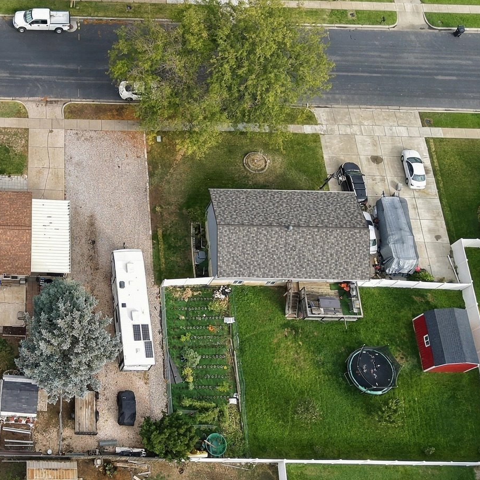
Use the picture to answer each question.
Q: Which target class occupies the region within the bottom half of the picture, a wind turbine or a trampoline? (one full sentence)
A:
What appears within the bottom half of the picture is a trampoline.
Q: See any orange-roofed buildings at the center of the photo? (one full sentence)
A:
No, no orange-roofed building appears at the center of the photo.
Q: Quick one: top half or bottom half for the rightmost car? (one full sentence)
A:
The top half of the photo is where the rightmost car is.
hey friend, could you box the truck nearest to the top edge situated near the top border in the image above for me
[15,9,71,36]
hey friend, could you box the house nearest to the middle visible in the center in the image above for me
[204,188,372,287]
